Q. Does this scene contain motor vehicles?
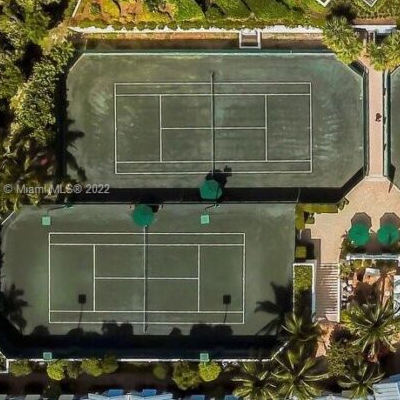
No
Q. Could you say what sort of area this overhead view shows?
sports ground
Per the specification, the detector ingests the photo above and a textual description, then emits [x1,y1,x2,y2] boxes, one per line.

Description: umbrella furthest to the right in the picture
[376,223,398,245]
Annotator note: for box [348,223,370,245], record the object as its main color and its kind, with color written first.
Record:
green umbrella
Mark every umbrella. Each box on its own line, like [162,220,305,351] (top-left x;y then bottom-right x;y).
[376,223,398,245]
[348,223,370,245]
[200,180,222,200]
[132,206,155,228]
